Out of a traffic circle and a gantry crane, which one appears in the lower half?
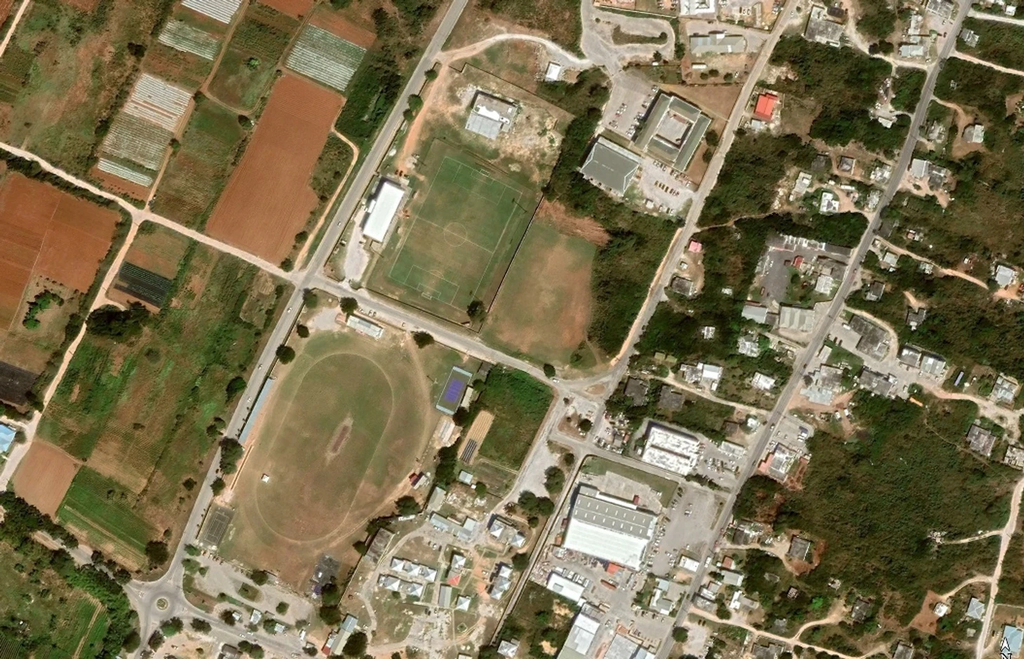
traffic circle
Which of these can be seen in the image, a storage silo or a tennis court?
tennis court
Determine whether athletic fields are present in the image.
Yes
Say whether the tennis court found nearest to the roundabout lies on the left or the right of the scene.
left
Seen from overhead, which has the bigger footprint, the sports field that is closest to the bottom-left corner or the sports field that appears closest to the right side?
the sports field that is closest to the bottom-left corner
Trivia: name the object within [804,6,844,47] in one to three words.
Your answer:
building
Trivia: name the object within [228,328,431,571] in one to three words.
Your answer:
sports field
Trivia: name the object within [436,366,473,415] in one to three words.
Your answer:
sports court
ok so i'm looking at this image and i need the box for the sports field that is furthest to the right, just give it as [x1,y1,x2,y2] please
[484,197,596,354]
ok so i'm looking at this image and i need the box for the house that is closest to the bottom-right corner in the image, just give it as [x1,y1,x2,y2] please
[1001,626,1023,652]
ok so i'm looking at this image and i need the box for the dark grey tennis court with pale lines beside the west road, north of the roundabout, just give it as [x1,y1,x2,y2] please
[198,504,235,549]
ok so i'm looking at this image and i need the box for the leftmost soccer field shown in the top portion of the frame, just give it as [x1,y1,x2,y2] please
[389,155,527,312]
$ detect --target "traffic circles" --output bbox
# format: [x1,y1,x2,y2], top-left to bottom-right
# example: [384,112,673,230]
[123,559,205,647]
